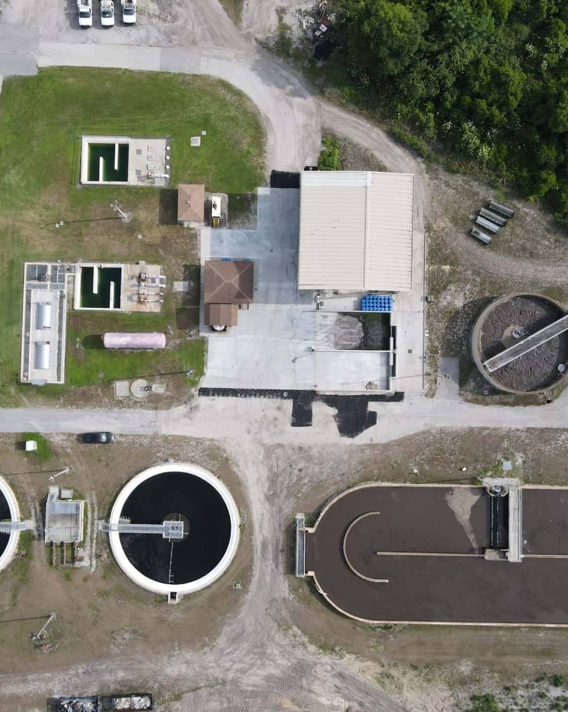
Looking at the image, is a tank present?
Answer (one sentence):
Yes, there's a tank here.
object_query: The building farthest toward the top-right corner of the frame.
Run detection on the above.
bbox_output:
[298,171,413,291]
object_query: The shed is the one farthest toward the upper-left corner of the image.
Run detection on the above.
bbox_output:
[178,185,204,223]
